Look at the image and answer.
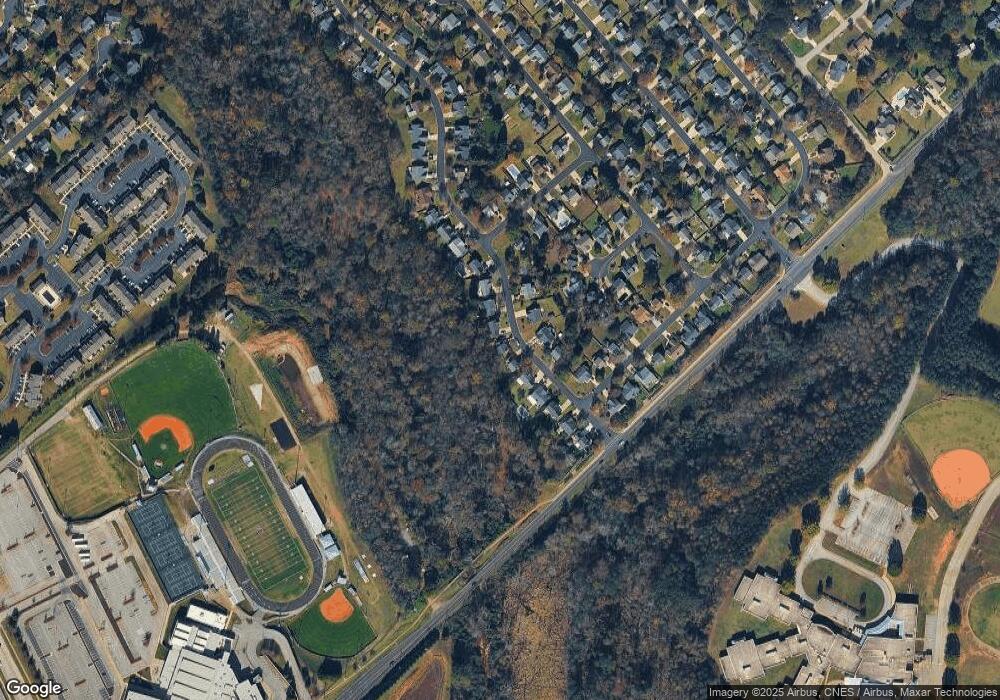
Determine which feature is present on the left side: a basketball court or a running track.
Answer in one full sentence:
It is a running track that can be seen on the left side.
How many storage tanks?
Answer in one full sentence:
No storage tanks are visible.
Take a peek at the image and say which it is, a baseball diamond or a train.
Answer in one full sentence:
The one in the frame is a baseball diamond.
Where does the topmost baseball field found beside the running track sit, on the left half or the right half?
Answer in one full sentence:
The topmost baseball field found beside the running track appears in the left half of the scene.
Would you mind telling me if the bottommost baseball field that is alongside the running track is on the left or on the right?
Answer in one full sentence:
You can find the bottommost baseball field that is alongside the running track on the left side of the picture.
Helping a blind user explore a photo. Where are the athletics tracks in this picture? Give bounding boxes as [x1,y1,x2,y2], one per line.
[188,435,325,613]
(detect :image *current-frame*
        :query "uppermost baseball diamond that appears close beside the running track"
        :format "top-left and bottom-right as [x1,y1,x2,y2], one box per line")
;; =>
[109,340,237,484]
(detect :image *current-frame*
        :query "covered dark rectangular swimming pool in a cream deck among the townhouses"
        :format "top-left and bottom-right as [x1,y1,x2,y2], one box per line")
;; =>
[34,284,61,308]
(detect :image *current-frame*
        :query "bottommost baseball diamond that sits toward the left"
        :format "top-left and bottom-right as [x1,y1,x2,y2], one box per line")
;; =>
[289,584,378,658]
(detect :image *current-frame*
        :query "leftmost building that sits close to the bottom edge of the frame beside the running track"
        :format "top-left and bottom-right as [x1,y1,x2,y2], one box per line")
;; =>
[125,605,263,700]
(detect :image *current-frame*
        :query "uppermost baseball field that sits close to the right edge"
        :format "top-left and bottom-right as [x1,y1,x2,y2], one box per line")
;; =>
[902,396,1000,511]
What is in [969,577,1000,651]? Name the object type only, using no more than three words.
sports field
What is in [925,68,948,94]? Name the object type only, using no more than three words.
house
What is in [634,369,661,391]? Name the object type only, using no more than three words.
house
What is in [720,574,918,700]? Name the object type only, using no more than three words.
building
